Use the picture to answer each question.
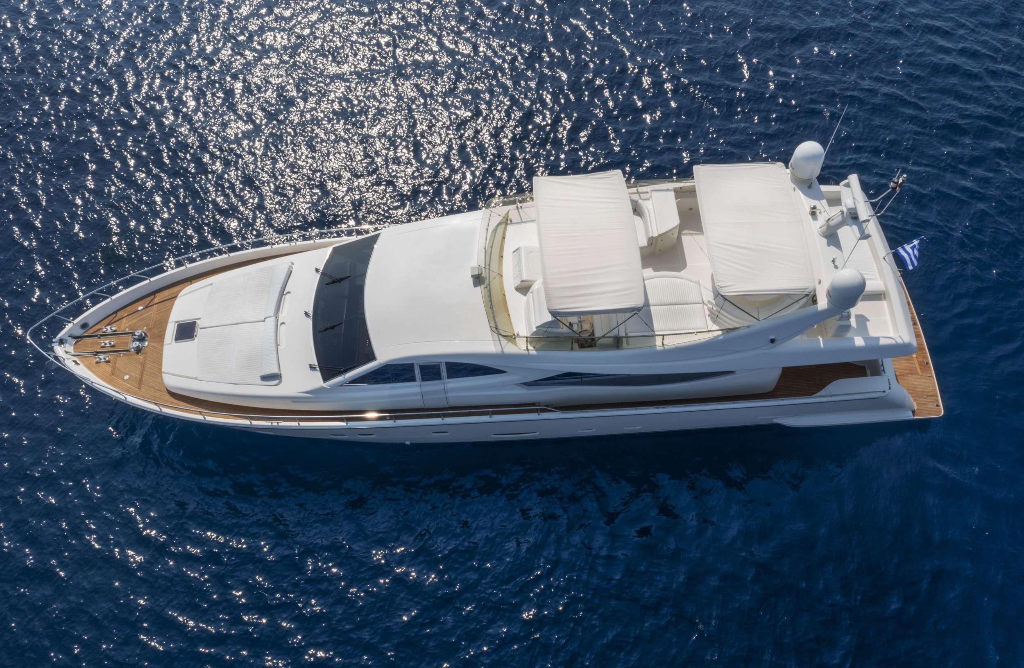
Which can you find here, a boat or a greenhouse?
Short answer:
boat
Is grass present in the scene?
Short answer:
No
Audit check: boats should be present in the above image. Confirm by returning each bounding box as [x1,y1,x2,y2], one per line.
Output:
[26,104,943,443]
